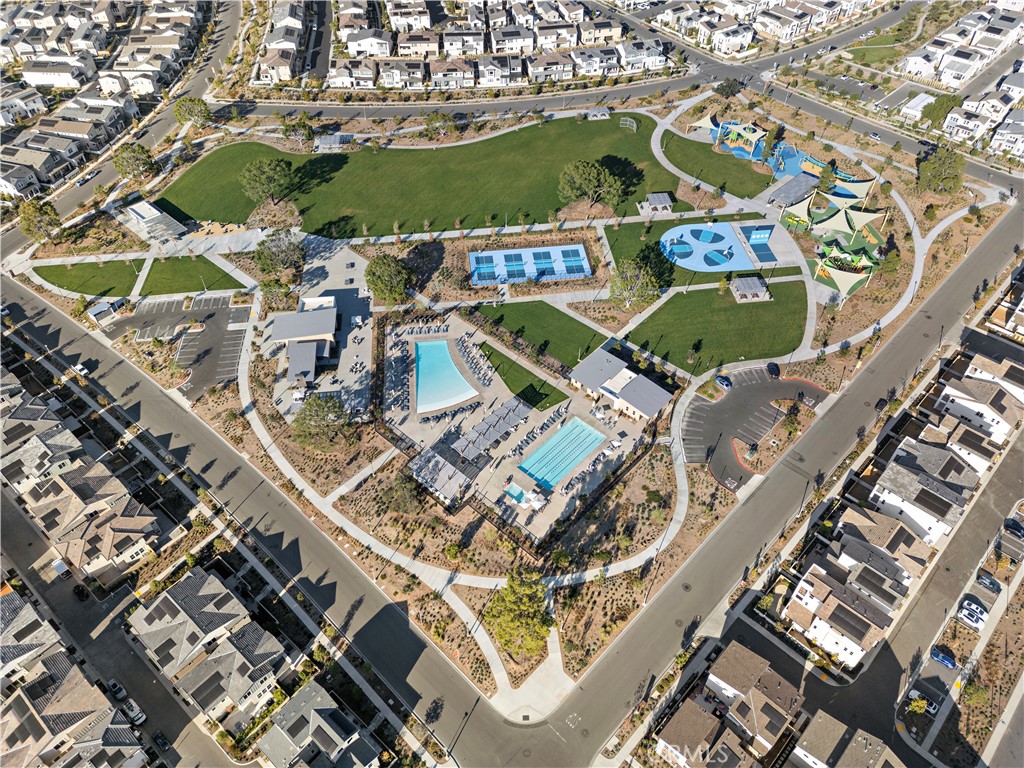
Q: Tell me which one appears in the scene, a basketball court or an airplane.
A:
basketball court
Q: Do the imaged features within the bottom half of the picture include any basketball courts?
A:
No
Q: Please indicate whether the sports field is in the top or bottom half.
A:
top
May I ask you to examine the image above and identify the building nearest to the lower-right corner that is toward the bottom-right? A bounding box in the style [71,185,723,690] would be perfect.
[832,724,898,768]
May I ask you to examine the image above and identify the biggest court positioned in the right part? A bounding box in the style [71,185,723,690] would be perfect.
[660,222,756,272]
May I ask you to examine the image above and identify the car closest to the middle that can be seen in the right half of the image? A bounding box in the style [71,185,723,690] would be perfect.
[717,375,733,388]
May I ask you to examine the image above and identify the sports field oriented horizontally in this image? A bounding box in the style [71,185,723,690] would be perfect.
[157,112,695,238]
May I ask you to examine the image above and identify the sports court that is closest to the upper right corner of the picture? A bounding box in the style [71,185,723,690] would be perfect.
[740,225,777,262]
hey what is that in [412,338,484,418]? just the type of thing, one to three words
swimming pool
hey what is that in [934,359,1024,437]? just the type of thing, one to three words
house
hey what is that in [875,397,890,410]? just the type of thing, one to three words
vehicle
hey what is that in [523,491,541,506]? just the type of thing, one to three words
umbrella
